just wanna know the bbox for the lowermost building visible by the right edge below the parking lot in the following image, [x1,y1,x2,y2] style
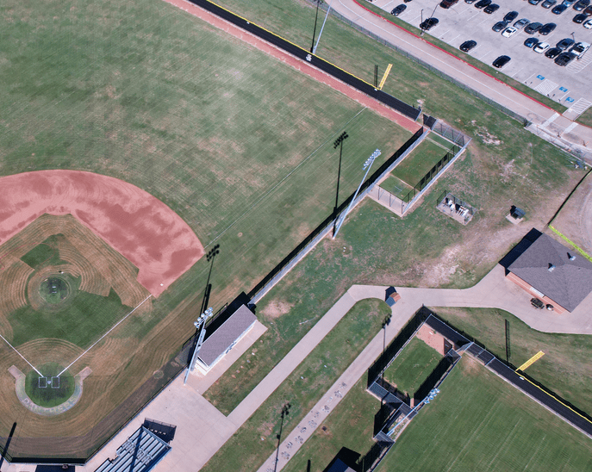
[505,234,592,316]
